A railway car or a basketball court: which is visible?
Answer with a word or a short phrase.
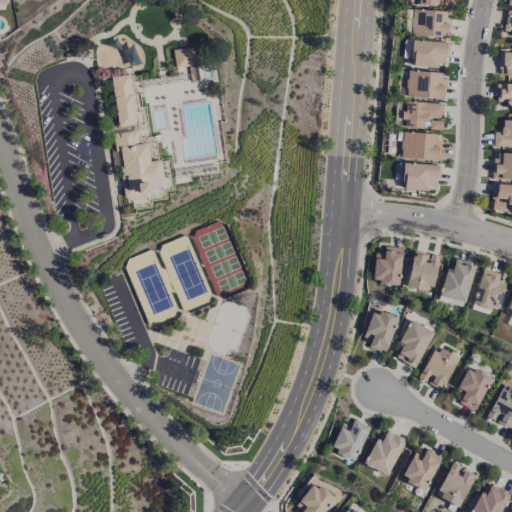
basketball court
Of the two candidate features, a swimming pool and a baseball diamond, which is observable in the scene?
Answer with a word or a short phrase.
swimming pool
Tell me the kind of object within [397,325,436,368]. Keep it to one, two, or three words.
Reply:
house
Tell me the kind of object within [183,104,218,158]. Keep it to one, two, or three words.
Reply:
swimming pool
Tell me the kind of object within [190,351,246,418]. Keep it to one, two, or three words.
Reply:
basketball court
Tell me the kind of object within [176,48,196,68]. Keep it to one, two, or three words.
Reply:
building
